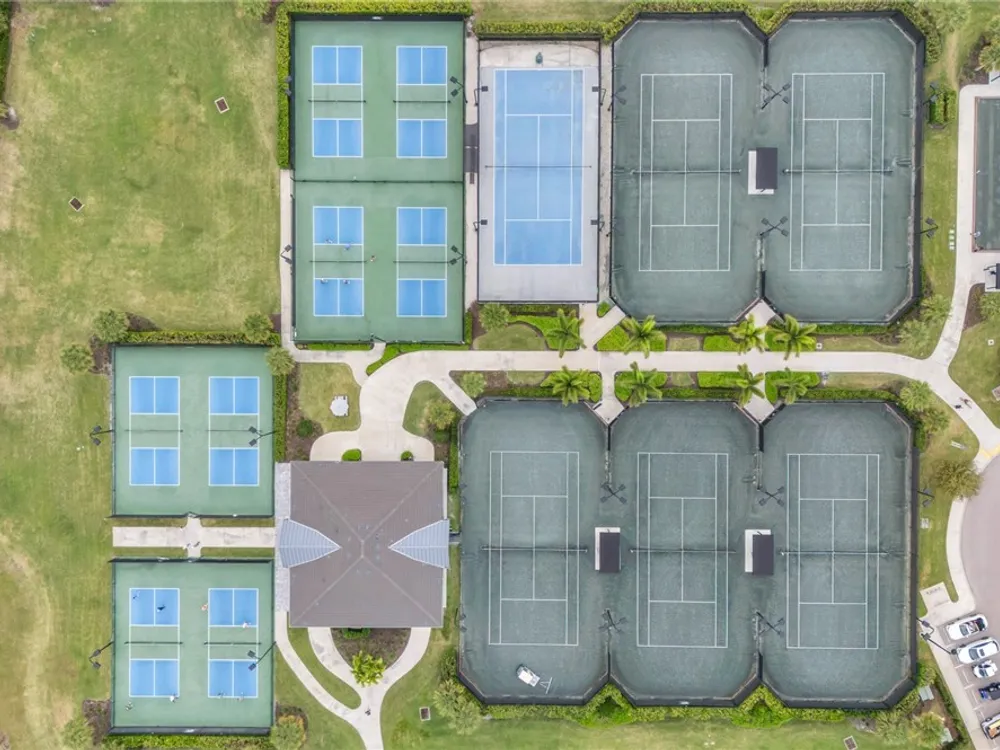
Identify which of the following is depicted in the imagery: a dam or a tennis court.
tennis court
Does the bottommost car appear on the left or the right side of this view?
right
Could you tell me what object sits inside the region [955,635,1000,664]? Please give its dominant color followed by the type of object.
white car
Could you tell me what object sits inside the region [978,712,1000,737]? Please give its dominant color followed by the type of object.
white car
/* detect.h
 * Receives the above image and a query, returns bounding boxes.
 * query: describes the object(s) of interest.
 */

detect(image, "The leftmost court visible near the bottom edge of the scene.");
[114,559,194,728]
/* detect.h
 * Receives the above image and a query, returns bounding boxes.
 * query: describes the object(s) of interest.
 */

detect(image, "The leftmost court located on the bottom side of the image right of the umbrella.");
[460,403,608,697]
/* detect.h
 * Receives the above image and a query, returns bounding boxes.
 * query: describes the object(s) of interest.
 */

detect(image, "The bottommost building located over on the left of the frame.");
[279,461,451,629]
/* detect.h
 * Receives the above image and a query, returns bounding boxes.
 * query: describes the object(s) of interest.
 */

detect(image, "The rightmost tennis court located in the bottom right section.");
[759,405,911,701]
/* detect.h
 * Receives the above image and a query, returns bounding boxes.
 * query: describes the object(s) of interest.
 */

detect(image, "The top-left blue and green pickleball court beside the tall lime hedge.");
[294,21,379,181]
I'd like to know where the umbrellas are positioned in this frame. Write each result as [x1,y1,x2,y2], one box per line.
[331,397,350,416]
